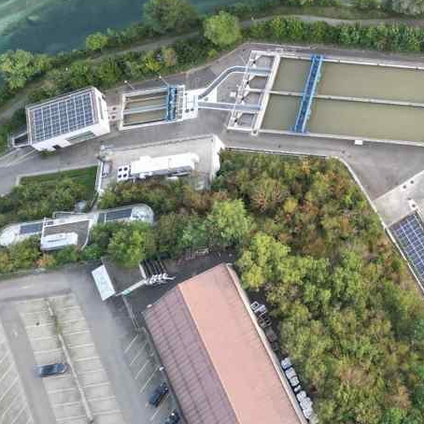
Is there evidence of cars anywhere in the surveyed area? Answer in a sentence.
Yes, I can see a car in this picture.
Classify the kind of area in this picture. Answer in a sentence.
It's an industrial area.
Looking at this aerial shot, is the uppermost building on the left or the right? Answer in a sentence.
You can find the uppermost building on the left side of the picture.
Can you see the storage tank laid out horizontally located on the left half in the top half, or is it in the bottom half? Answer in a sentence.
You can find the storage tank laid out horizontally located on the left half in the top half.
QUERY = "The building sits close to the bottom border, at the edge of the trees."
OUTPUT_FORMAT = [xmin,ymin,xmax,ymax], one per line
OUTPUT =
[142,262,323,424]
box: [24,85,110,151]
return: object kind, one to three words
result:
building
